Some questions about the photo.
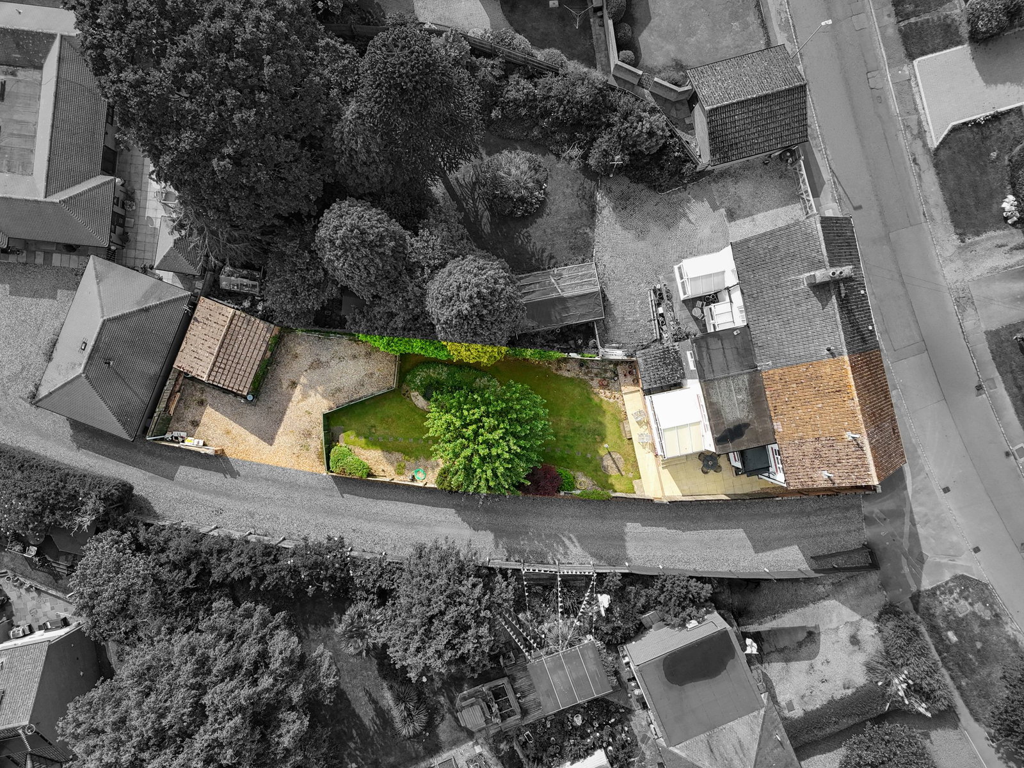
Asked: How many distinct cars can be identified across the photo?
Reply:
0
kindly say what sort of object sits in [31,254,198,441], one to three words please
building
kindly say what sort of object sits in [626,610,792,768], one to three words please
house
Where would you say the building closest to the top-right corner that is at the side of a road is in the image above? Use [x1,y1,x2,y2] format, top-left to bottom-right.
[683,44,809,174]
